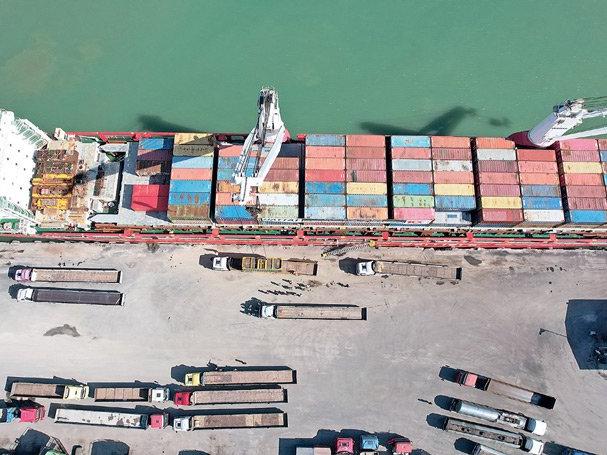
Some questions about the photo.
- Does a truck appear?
Yes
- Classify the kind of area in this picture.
port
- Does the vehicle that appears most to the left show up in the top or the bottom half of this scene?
bottom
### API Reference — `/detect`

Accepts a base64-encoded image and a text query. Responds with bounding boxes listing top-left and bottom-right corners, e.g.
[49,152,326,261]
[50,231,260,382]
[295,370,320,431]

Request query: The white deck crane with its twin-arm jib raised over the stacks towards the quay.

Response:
[230,86,291,212]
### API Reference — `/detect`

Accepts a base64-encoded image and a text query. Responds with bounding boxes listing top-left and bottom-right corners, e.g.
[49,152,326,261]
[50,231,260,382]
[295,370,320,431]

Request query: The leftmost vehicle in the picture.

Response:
[0,403,53,423]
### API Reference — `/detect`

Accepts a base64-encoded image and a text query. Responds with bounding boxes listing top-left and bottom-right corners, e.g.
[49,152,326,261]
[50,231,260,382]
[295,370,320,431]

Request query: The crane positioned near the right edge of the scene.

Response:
[506,91,607,150]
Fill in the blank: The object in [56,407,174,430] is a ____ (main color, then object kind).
white truck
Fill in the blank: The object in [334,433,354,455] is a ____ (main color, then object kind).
pink vehicle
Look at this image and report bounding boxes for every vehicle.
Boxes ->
[14,288,124,305]
[587,343,607,363]
[261,303,368,319]
[360,431,380,455]
[297,443,314,455]
[314,444,330,455]
[11,267,123,284]
[445,395,547,435]
[452,369,560,411]
[0,403,53,423]
[185,369,296,387]
[213,257,317,274]
[56,407,174,430]
[442,412,544,454]
[392,436,414,455]
[355,261,462,280]
[174,388,288,406]
[334,433,354,455]
[11,382,101,401]
[174,412,287,432]
[91,386,174,403]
